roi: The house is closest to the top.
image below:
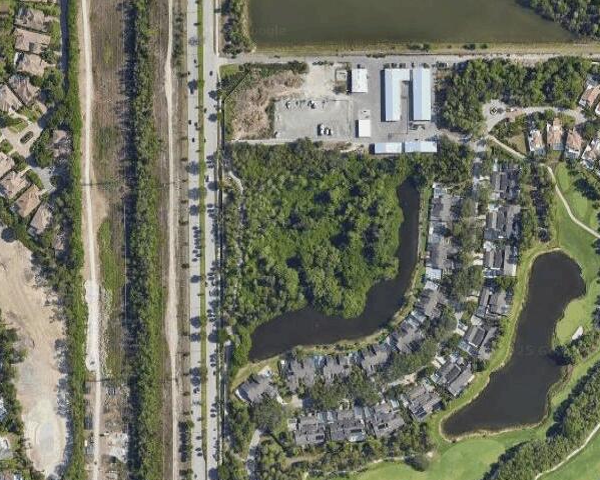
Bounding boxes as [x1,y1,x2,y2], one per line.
[20,8,47,26]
